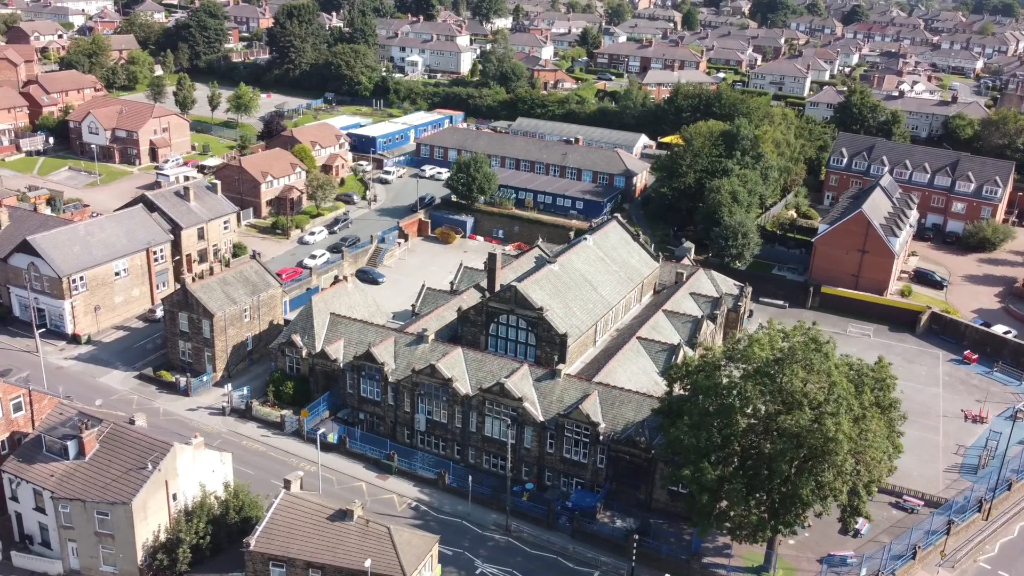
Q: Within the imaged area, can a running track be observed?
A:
No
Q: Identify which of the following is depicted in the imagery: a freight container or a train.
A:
freight container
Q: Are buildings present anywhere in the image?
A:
Yes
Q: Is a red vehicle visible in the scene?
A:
Yes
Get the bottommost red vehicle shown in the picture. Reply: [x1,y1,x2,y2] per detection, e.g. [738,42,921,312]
[271,263,307,281]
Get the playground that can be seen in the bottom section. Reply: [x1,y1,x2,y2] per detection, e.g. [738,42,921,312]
[716,305,1024,576]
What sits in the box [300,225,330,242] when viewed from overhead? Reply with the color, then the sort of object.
white car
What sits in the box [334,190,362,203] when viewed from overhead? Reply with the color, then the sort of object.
gray vehicle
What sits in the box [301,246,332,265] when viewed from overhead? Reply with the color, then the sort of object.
white car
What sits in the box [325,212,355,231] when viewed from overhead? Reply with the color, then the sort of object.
gray car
